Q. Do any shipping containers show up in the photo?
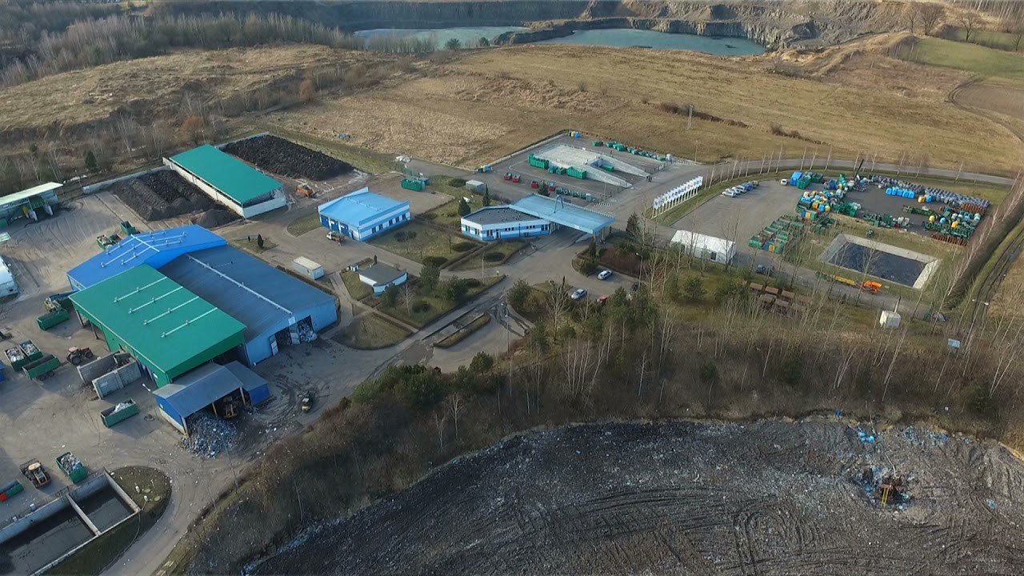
Yes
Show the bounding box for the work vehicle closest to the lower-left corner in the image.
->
[13,453,51,487]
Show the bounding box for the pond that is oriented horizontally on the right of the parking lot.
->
[816,233,944,290]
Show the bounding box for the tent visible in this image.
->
[670,235,732,266]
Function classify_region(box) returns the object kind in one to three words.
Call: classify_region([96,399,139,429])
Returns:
shipping container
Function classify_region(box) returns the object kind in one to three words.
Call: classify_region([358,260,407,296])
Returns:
building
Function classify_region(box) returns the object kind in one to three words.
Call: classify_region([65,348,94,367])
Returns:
work vehicle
